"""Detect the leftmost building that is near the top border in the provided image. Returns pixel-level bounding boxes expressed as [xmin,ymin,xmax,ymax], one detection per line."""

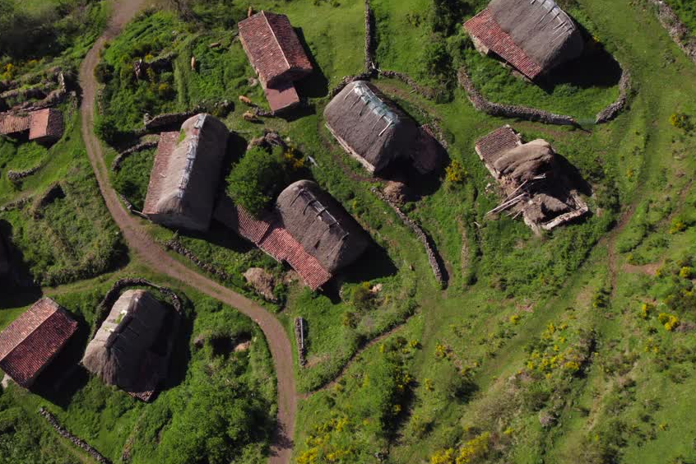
[237,8,314,118]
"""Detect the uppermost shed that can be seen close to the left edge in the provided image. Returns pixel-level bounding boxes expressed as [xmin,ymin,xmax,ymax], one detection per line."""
[0,107,66,147]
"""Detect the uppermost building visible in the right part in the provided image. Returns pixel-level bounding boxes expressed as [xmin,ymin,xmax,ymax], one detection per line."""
[464,0,593,85]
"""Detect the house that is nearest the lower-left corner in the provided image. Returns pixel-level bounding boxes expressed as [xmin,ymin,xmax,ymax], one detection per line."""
[0,296,79,389]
